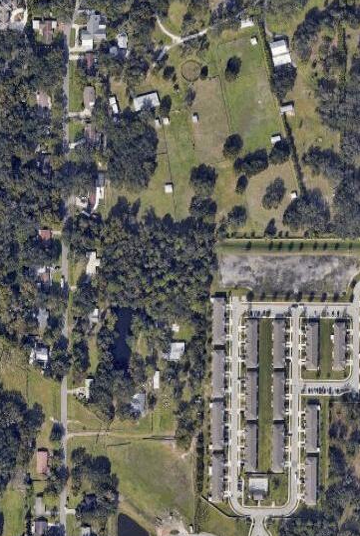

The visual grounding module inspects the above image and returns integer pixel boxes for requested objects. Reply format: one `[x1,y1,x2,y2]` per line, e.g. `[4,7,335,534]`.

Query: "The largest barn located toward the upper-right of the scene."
[269,43,294,68]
